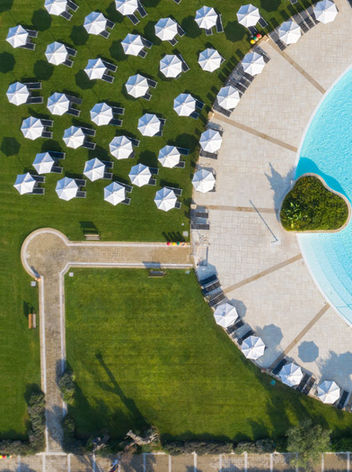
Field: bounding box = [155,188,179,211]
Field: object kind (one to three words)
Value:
umbrella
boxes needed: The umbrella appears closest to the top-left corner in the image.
[7,24,32,48]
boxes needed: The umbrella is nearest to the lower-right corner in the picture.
[317,380,341,403]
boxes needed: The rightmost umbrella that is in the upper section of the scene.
[314,0,338,23]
